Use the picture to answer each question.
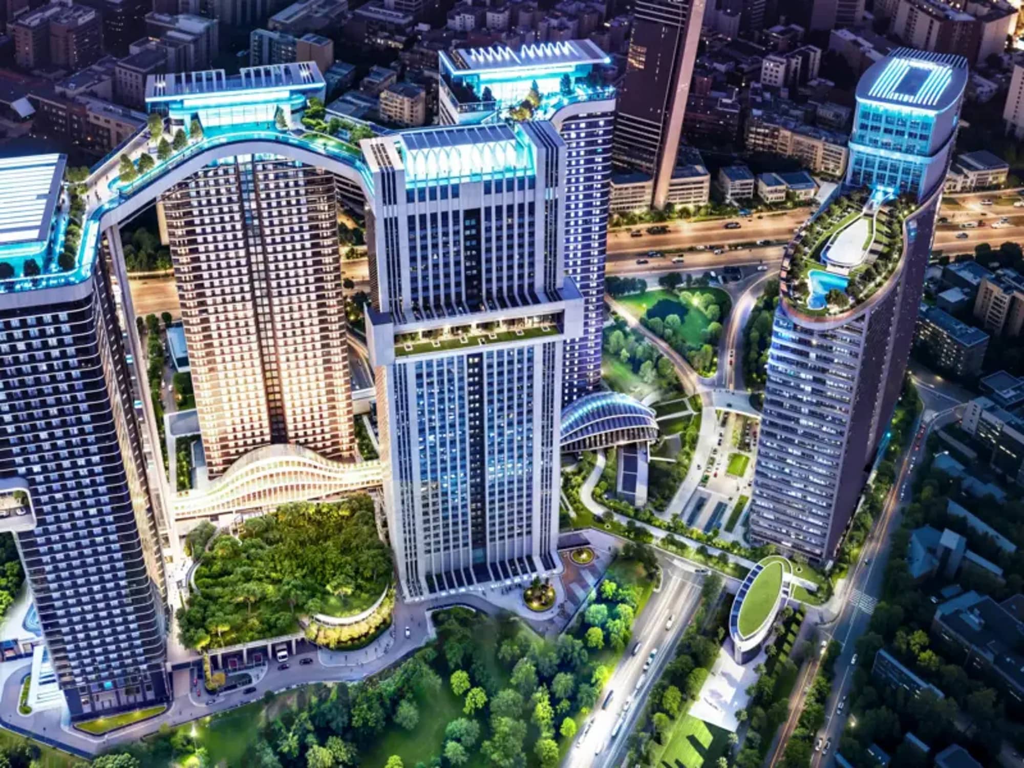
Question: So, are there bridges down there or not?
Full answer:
Yes, there is a bridge in the image.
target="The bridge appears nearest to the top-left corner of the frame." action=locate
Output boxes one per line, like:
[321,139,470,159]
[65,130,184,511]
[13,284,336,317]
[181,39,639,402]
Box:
[80,115,372,249]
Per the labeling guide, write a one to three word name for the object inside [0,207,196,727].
building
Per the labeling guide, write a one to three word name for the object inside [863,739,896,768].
building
